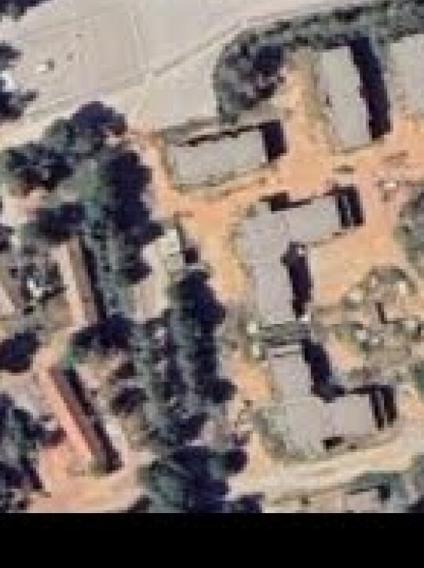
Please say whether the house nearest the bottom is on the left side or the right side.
right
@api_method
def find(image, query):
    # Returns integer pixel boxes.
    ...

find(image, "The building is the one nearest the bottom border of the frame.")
[347,492,386,514]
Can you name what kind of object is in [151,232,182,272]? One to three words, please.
shed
